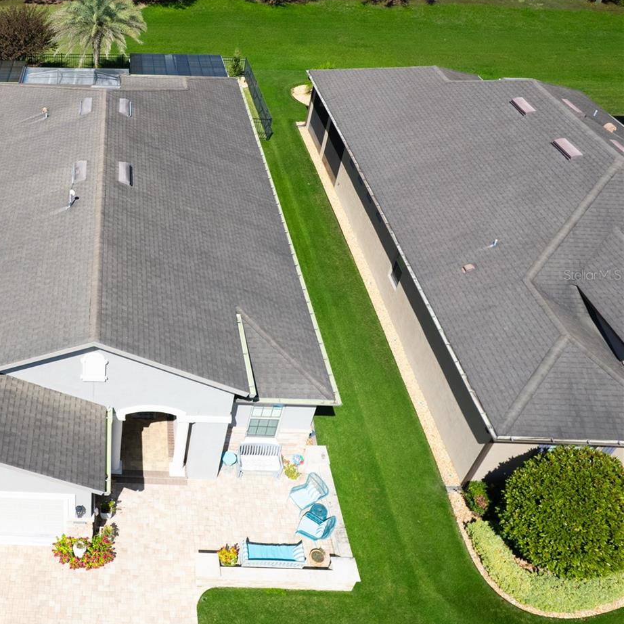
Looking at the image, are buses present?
No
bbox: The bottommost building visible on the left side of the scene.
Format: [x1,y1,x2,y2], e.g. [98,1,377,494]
[0,77,341,550]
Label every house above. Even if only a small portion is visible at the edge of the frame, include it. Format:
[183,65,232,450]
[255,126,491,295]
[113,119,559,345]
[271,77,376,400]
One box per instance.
[0,77,341,550]
[310,68,624,484]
